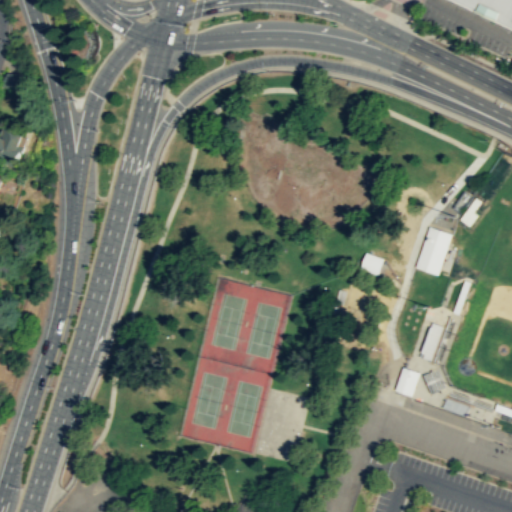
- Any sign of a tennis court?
Yes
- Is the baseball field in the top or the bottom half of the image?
bottom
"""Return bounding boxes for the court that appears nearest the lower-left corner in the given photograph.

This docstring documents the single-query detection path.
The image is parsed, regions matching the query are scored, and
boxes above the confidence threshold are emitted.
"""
[192,372,228,430]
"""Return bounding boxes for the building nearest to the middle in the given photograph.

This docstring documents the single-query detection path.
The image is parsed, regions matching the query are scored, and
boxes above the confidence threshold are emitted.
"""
[360,252,384,276]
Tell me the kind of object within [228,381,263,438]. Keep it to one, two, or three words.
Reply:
tennis court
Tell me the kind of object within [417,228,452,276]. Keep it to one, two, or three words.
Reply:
barn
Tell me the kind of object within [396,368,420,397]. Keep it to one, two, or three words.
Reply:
shed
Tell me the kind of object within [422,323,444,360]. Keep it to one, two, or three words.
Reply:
building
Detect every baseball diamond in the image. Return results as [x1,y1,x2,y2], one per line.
[459,285,512,406]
